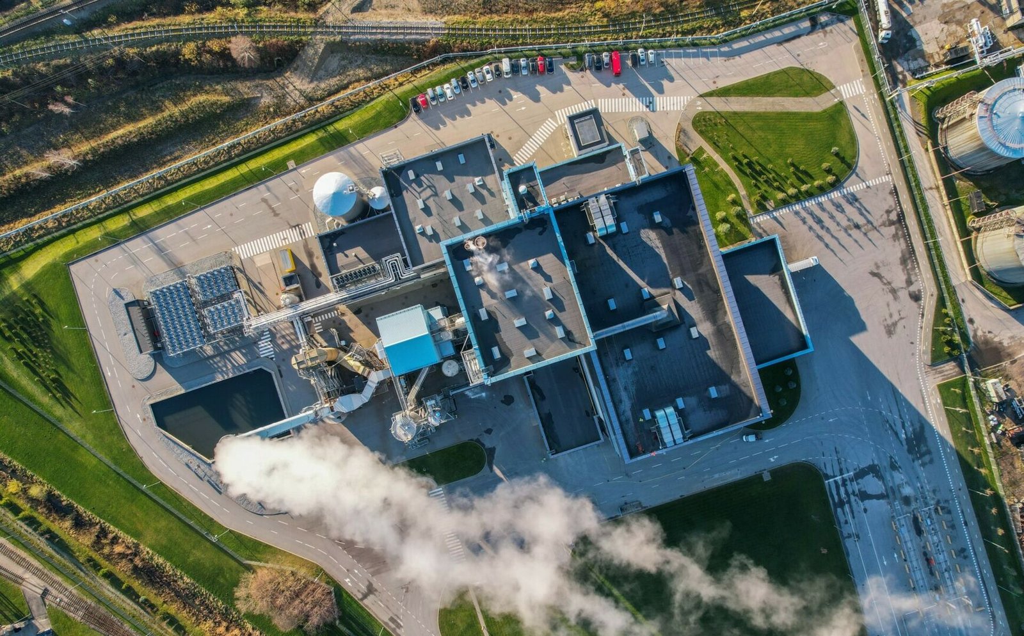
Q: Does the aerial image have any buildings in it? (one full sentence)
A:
Yes, there is a building in the image.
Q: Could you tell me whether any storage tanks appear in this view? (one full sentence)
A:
Yes, a storage tank appears in the view.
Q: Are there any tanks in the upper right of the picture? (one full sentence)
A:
Yes, a tank is visible in the upper right of the picture.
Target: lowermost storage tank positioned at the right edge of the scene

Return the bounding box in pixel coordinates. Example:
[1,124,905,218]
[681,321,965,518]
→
[965,205,1024,292]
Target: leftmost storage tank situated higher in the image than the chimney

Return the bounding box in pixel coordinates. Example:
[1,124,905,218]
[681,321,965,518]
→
[312,172,370,227]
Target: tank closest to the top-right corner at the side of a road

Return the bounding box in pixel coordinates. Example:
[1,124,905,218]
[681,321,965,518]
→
[932,77,1024,178]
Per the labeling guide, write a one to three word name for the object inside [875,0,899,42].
truck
